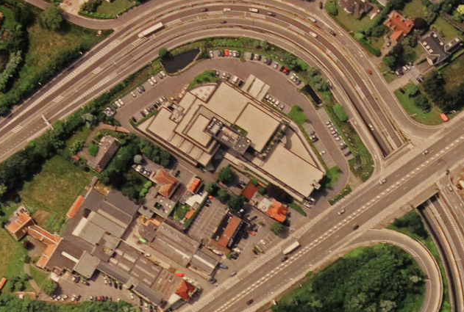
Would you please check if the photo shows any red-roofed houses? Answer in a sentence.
Yes, looking at the shot, I can spot a red-roofed house.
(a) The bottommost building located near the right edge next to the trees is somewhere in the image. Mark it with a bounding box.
[416,33,463,68]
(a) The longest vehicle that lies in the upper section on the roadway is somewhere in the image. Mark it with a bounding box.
[138,20,165,40]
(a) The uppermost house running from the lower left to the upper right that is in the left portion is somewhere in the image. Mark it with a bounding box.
[85,136,119,172]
